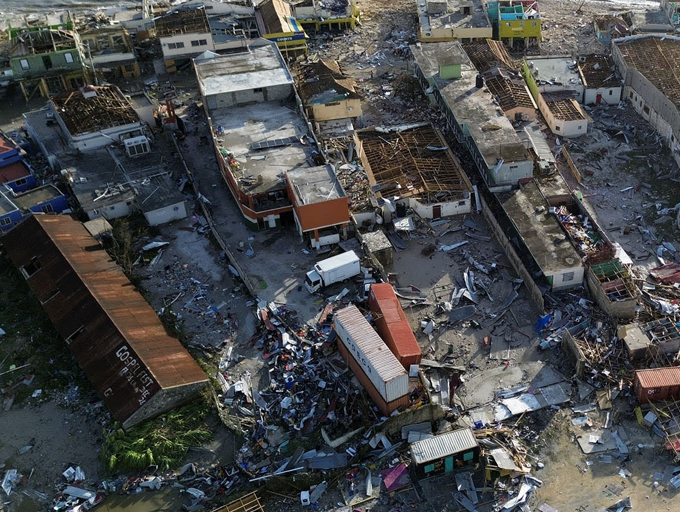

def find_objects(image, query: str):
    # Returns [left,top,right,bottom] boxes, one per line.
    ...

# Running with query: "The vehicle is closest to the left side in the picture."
[300,250,362,297]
